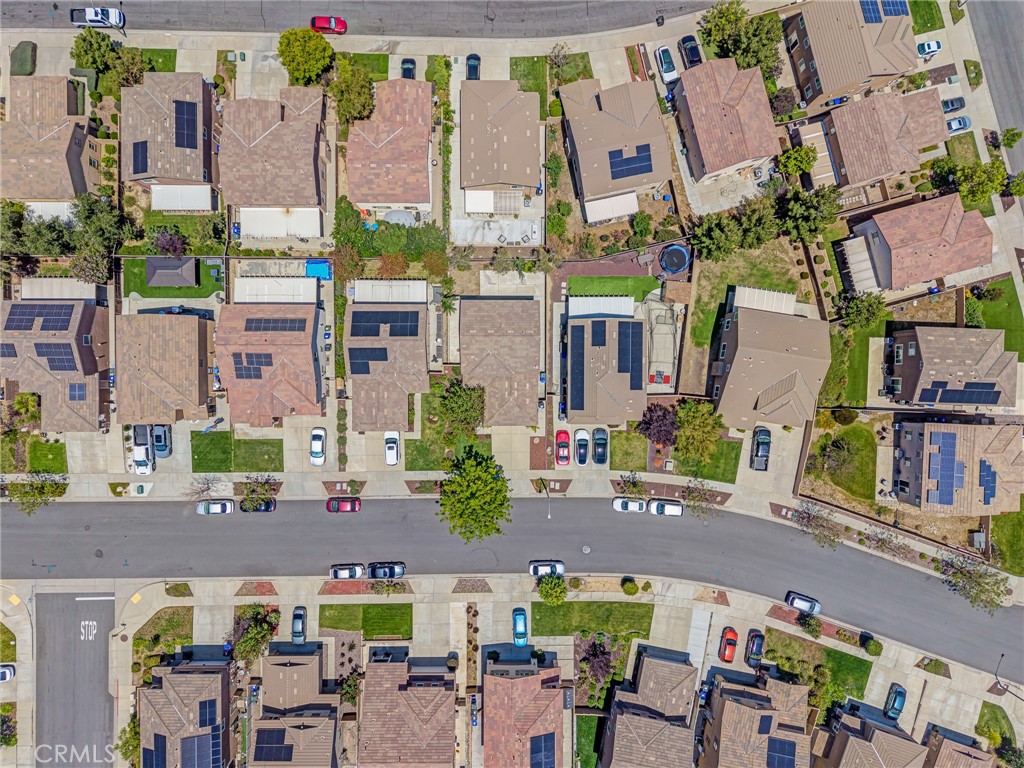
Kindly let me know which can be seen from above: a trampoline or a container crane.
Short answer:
trampoline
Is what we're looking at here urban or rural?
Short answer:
urban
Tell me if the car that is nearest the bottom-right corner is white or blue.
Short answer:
blue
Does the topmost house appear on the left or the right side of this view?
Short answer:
right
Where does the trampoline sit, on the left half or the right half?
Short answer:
right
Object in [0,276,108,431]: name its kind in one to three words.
house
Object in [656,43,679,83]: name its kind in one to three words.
car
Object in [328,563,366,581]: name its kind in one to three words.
car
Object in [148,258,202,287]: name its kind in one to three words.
gazebo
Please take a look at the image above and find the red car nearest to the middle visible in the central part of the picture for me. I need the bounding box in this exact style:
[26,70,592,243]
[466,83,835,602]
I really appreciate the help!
[554,429,572,466]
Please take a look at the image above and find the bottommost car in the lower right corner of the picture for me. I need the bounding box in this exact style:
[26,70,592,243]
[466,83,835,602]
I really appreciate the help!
[883,682,908,719]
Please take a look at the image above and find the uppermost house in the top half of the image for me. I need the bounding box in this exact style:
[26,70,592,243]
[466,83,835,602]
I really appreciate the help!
[781,0,916,106]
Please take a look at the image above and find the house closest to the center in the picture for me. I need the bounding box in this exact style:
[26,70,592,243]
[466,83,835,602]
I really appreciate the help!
[459,298,541,426]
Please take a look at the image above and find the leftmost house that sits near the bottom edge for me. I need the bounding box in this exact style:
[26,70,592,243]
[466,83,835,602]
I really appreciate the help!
[139,657,235,768]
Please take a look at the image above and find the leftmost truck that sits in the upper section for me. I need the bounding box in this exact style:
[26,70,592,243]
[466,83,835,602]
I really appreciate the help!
[71,6,124,28]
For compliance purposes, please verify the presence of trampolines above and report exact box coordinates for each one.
[659,243,692,275]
